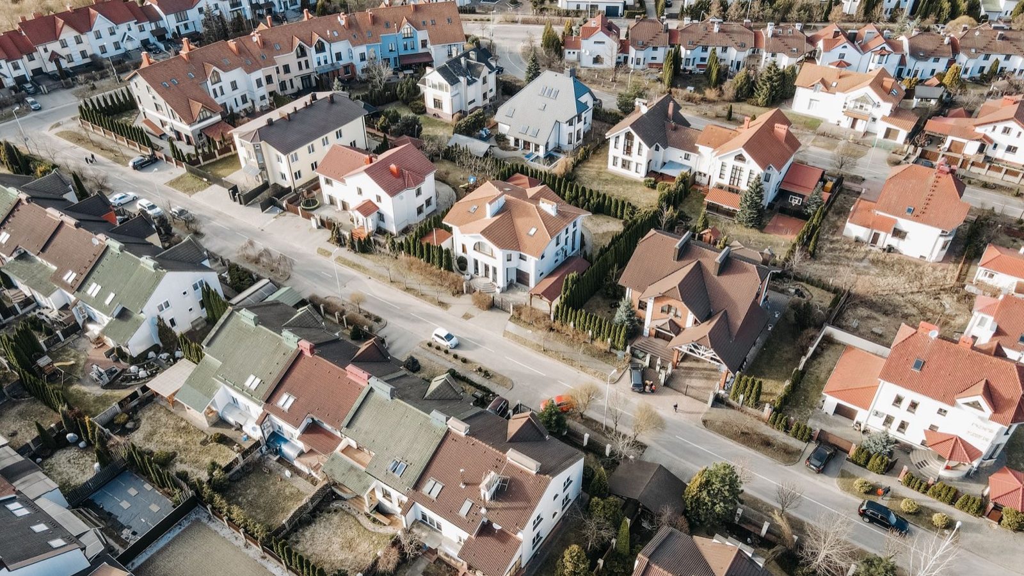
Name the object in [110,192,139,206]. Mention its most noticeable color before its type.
white car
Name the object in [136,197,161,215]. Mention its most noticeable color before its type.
white car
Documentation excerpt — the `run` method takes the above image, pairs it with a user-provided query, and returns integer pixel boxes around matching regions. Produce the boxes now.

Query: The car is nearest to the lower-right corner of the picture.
[855,501,911,540]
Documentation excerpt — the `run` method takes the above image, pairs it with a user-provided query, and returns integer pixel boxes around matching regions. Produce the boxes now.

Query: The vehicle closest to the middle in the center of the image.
[429,328,459,351]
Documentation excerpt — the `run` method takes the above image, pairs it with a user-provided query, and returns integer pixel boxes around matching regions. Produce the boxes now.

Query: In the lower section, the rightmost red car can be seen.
[540,395,576,415]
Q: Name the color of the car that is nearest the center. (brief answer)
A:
white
